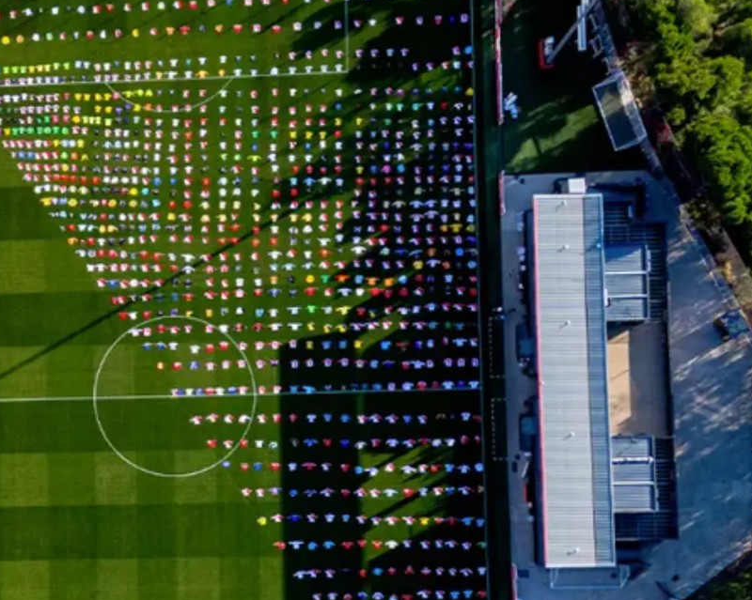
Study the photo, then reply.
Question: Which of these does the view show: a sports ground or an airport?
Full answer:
The area seen from above is a sports ground.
